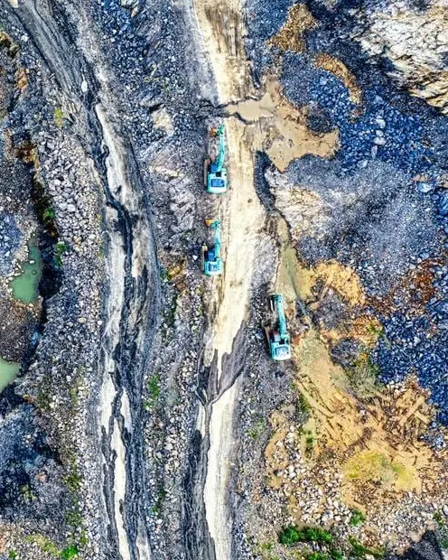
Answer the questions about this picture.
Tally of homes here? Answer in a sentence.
There are no homes in this view.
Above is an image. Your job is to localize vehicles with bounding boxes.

[265,299,295,365]
[198,220,227,278]
[202,121,232,195]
